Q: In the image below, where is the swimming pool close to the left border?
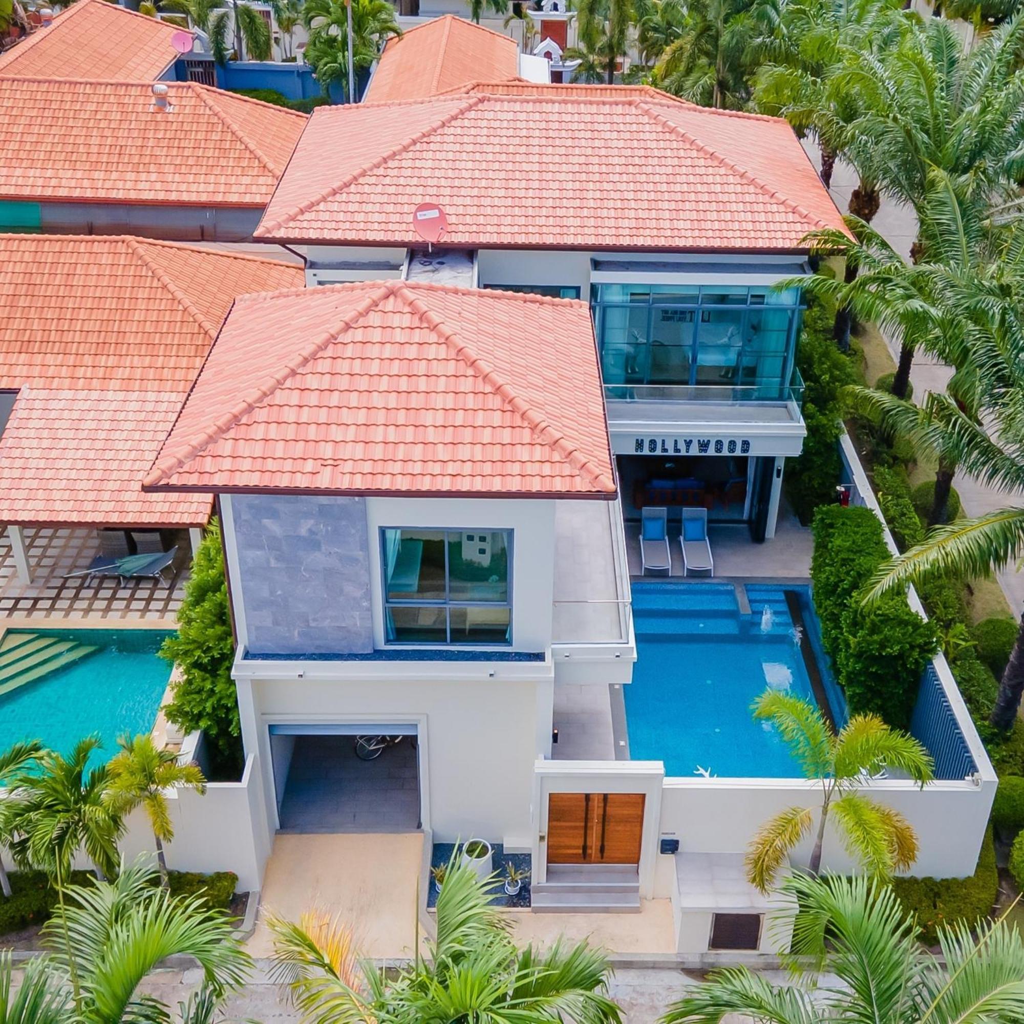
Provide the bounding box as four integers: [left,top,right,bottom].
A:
[0,631,168,776]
